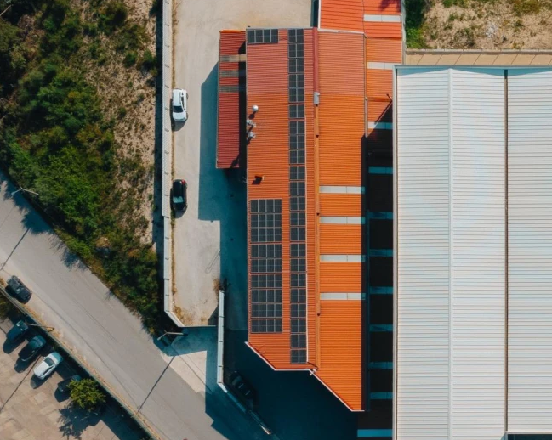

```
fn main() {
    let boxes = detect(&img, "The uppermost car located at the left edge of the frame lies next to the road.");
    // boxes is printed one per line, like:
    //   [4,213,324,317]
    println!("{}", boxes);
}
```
[2,274,34,304]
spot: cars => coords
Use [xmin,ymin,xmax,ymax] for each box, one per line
[16,332,49,365]
[1,319,32,351]
[170,181,187,213]
[2,274,34,304]
[171,89,188,121]
[33,350,64,382]
[54,371,85,402]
